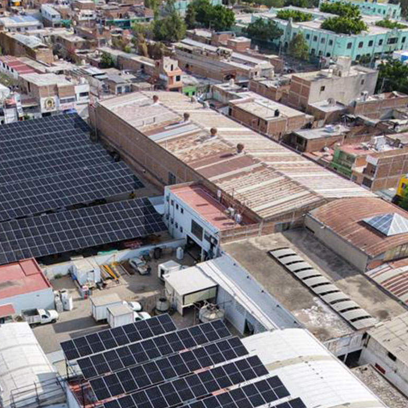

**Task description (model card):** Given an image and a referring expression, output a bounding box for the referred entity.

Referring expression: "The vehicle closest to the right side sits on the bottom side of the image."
[161,254,197,275]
